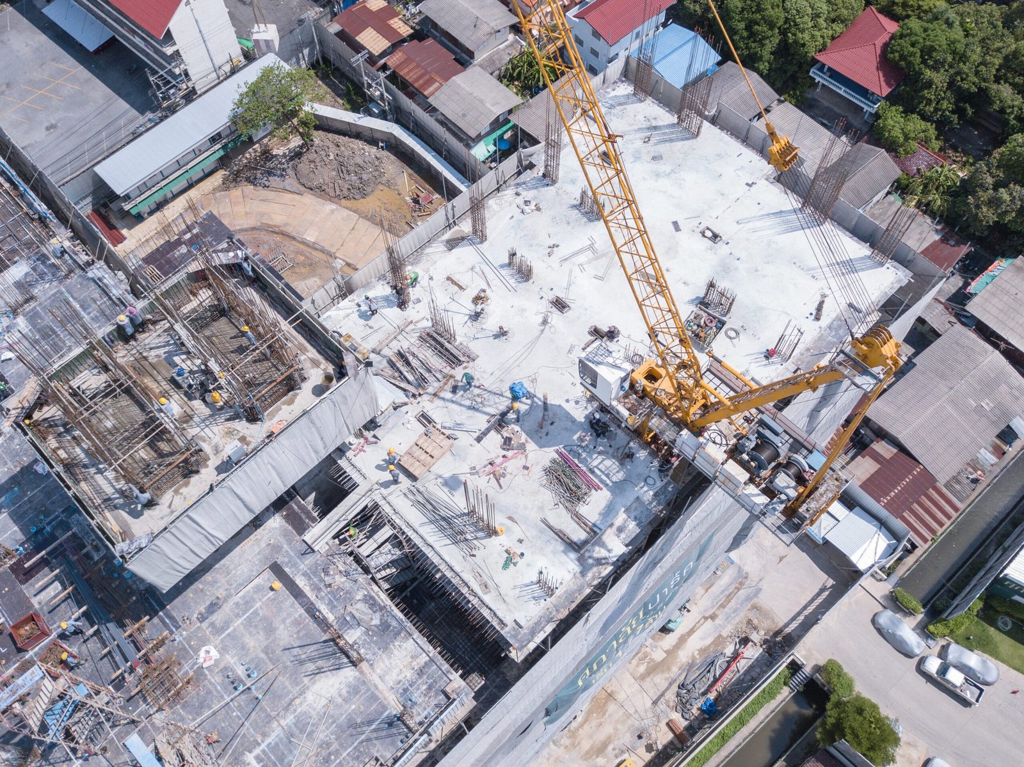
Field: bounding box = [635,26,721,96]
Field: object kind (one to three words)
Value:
house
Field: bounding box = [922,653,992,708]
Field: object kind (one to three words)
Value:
truck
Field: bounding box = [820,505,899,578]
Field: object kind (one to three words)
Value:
building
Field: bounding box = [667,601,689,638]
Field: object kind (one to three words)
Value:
work vehicle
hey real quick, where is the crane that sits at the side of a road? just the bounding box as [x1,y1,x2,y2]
[521,0,907,556]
